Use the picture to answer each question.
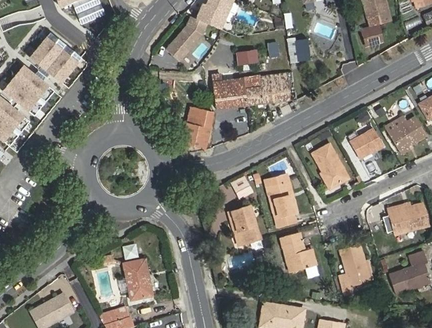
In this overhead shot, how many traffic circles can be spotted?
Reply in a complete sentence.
I count just 1 traffic circle.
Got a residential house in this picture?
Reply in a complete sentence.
Yes, the image includes a residential house.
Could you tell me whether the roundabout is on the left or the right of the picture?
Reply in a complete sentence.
The roundabout is on the left side of the image.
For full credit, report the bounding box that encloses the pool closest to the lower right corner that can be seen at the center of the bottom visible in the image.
[230,252,256,269]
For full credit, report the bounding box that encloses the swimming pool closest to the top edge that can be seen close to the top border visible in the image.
[236,10,259,26]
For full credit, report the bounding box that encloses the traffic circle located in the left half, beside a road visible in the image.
[77,125,168,217]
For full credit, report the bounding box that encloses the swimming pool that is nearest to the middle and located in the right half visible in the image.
[268,158,289,173]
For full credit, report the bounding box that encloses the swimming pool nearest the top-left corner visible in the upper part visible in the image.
[190,42,211,61]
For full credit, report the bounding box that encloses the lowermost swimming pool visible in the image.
[96,270,114,298]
